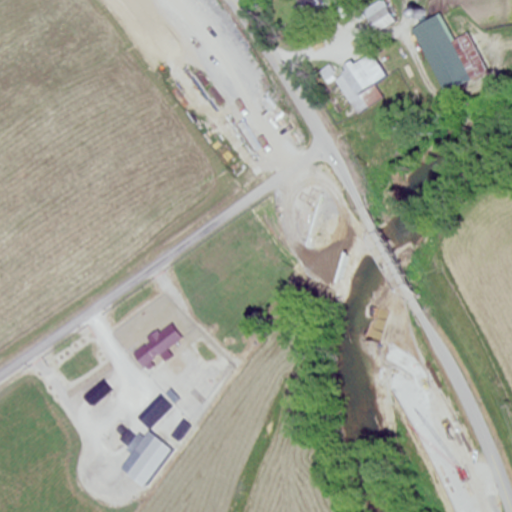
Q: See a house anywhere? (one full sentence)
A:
Yes, there is a house in the image.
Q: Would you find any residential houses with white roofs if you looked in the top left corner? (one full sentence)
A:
No, there is no residential house with a white roof in the top left corner.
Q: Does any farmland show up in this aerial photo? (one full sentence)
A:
Yes, farmland shows up in the scene.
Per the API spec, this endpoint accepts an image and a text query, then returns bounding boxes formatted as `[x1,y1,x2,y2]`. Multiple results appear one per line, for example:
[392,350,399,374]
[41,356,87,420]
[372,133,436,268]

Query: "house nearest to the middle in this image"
[135,322,183,368]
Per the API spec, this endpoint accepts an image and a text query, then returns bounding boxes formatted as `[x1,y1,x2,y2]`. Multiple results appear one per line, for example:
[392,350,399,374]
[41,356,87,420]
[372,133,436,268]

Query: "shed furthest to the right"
[454,34,486,78]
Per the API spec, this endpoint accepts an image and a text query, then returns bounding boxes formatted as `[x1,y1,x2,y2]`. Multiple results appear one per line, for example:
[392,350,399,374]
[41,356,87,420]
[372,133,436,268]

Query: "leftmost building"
[84,379,112,406]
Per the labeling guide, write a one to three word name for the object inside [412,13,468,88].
building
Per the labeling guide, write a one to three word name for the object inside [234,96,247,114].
vehicle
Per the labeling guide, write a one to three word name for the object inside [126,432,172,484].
barn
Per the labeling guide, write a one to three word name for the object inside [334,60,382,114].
house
